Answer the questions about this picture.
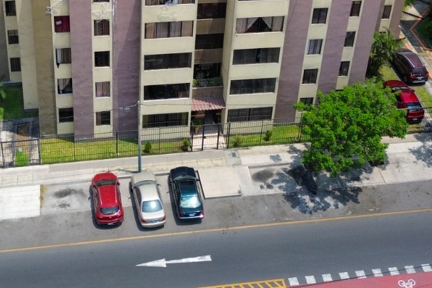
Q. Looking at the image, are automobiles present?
Yes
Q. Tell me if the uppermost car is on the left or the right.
right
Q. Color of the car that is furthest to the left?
red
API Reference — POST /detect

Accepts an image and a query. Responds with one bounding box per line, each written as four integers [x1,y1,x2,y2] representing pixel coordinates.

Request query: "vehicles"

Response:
[382,77,426,116]
[384,40,425,78]
[130,168,166,224]
[173,164,212,220]
[86,171,121,225]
